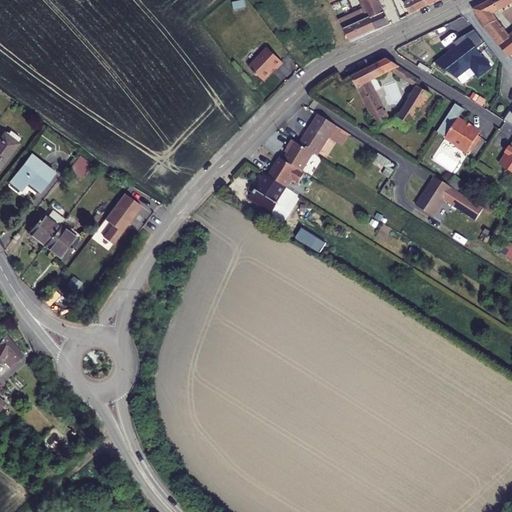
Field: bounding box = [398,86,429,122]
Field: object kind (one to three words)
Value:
barn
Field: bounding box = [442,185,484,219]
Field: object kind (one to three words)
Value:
house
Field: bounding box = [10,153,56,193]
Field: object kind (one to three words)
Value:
building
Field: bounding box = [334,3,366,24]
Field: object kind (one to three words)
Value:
shed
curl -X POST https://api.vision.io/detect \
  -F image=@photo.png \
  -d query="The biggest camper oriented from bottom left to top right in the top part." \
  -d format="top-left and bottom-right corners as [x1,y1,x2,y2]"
[442,33,458,46]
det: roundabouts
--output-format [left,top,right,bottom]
[56,322,140,407]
